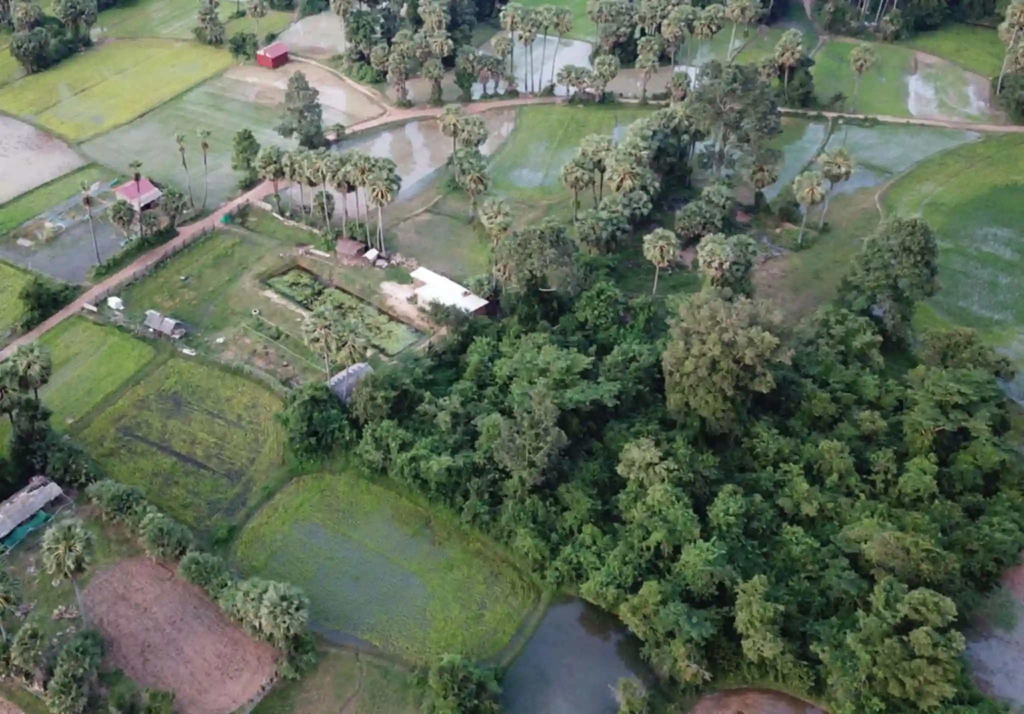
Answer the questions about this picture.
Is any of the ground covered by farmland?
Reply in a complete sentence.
Yes, the picture does contain farmland.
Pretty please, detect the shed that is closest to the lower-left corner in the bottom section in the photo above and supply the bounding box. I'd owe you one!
[0,480,72,542]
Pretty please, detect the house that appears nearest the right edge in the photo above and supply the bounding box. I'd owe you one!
[403,264,485,333]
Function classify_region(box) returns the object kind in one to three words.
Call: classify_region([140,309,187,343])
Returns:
shed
